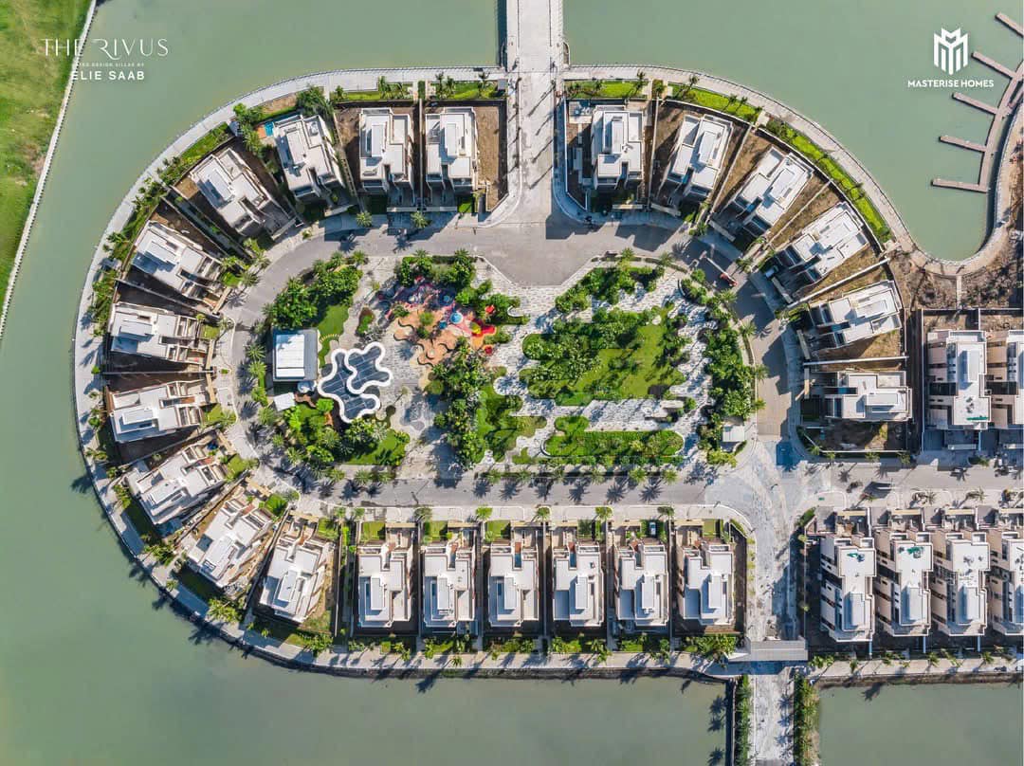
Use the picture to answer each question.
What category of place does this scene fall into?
residential area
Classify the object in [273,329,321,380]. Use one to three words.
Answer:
building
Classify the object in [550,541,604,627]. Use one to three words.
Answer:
house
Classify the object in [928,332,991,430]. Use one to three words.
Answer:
house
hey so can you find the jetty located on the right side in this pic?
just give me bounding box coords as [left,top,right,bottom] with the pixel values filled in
[931,10,1024,191]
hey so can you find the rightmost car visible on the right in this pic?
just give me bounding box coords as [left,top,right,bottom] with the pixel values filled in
[762,264,780,279]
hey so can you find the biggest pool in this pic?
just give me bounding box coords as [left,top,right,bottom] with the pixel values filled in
[255,122,277,139]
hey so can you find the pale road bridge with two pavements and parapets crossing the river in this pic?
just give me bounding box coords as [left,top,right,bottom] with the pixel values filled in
[501,0,570,67]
